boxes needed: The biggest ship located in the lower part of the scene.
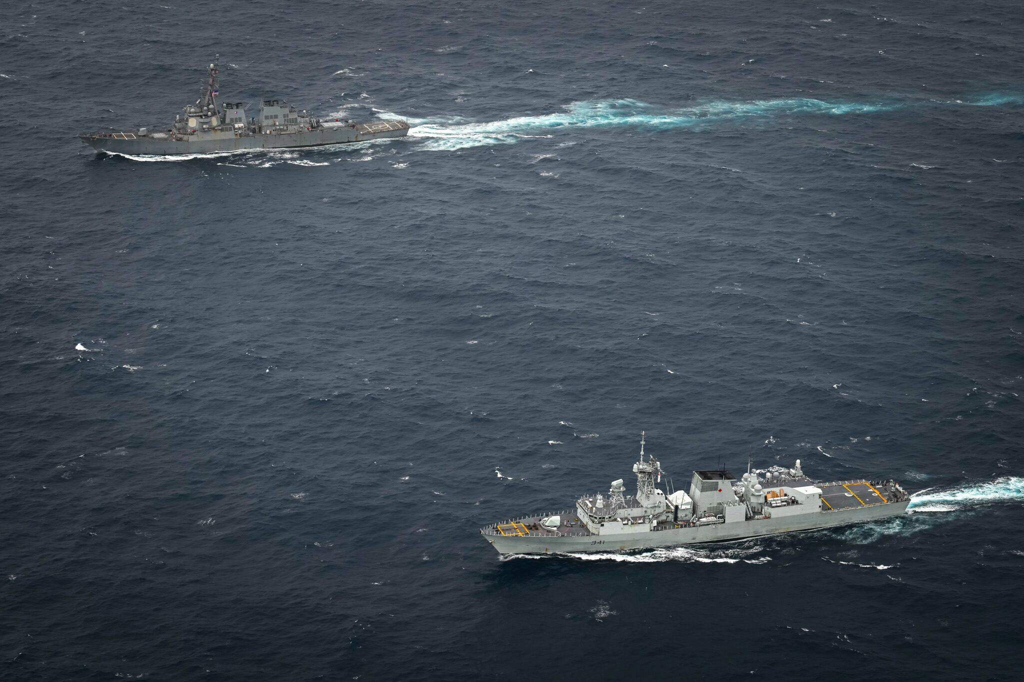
[481,431,911,553]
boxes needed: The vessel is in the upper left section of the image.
[81,56,411,155]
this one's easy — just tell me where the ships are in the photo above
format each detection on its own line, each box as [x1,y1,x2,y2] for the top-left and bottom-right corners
[481,431,911,553]
[81,56,411,155]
